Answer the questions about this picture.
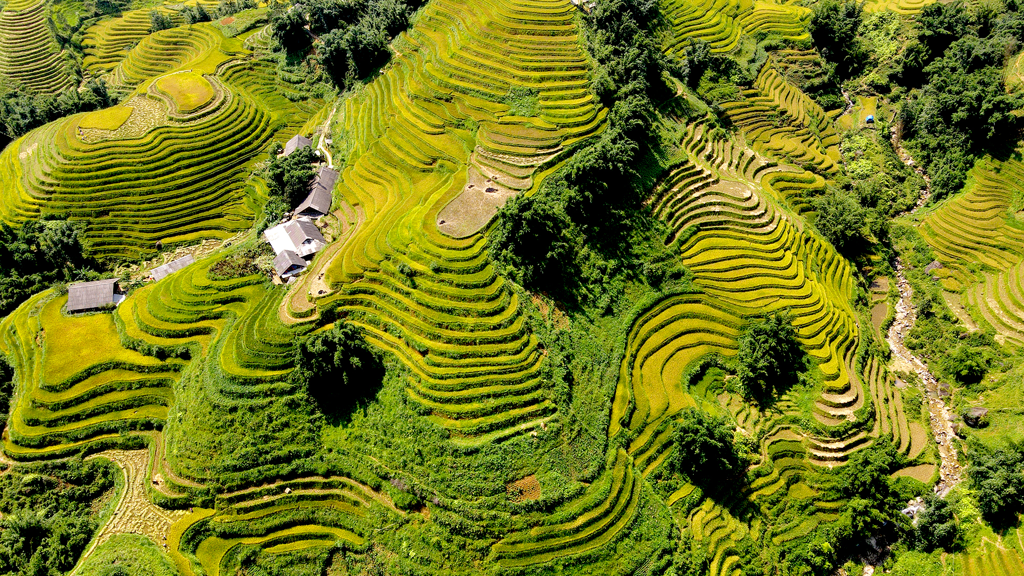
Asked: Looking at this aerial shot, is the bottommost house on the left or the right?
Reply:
left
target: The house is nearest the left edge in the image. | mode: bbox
[67,278,125,315]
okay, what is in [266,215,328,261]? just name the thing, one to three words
house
